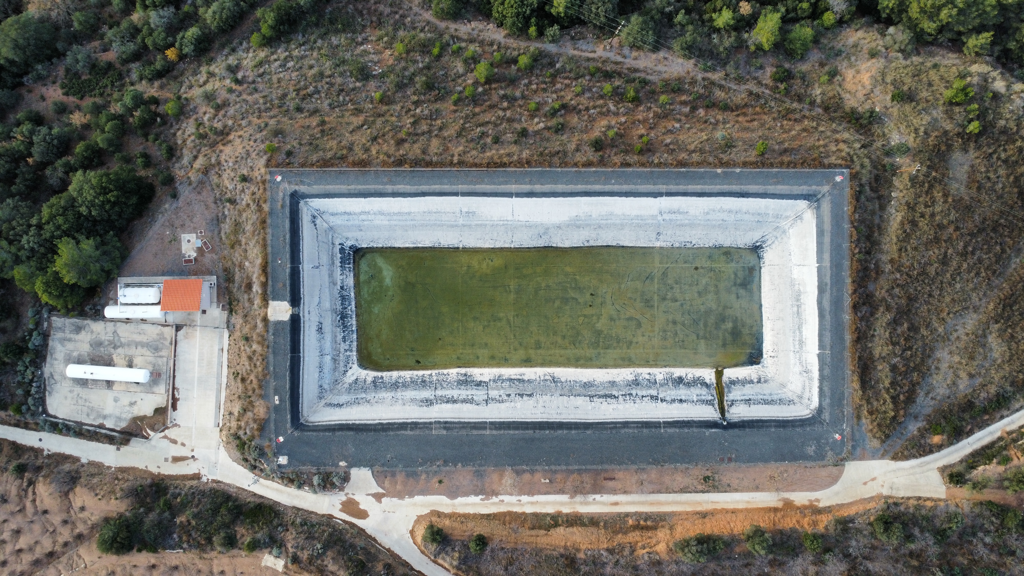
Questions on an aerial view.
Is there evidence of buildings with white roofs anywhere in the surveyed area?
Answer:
No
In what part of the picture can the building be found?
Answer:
left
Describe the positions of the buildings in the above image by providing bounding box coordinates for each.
[160,279,209,312]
